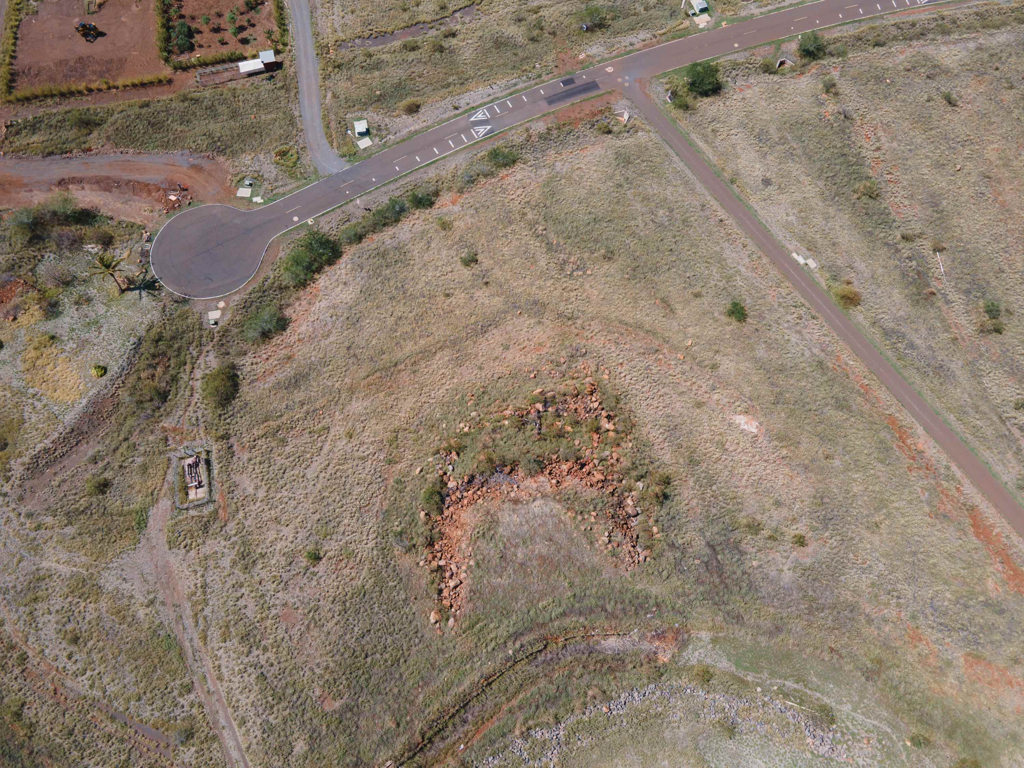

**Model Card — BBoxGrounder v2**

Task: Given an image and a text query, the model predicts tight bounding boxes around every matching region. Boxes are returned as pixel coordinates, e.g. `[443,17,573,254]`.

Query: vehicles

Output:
[73,11,100,44]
